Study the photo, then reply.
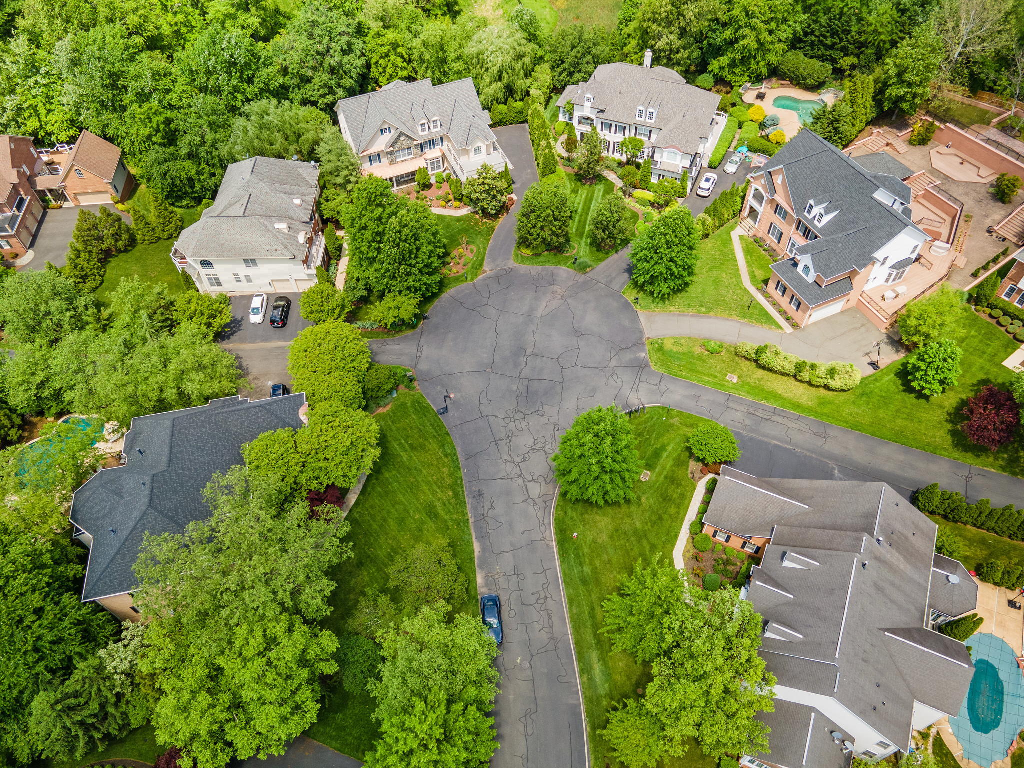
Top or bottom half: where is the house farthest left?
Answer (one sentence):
The house farthest left is in the top half of the image.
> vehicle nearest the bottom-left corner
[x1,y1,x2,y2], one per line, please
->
[266,378,286,398]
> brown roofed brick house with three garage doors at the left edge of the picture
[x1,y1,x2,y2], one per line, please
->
[0,135,75,253]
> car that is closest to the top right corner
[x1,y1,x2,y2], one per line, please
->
[725,151,746,171]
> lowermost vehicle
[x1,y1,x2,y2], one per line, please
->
[481,593,505,644]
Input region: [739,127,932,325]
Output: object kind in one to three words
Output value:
house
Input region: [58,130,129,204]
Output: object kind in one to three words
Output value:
building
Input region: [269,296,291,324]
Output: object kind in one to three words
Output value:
car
